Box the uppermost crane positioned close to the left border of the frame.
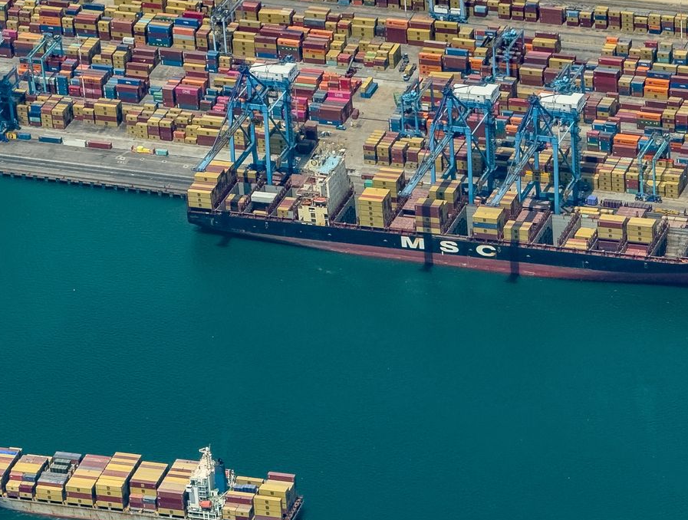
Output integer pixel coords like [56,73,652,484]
[28,30,66,93]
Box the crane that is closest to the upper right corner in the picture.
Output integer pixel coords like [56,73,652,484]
[545,64,578,90]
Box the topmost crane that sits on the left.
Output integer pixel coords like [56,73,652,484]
[210,0,247,53]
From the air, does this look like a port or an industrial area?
port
